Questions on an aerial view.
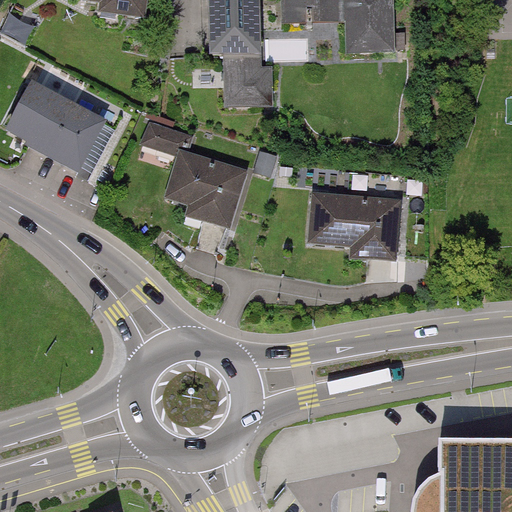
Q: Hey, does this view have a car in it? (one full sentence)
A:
Yes, this view includes a car.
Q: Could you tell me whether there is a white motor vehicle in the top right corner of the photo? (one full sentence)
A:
No, there's no white motor vehicle to be seen in the top right corner of the photo.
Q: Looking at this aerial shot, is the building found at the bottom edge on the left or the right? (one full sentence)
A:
The building found at the bottom edge sits on the right side.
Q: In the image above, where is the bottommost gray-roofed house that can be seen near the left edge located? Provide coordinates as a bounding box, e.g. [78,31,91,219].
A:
[6,79,106,174]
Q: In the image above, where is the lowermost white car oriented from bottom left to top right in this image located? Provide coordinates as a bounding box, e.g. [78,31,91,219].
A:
[240,410,262,428]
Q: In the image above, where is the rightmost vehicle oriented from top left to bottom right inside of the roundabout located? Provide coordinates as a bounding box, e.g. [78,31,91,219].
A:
[220,357,238,379]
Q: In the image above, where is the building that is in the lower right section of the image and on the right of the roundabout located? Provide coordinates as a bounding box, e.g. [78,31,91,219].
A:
[410,437,512,512]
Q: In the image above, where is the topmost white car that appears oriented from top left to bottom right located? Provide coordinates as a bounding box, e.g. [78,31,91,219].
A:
[164,242,186,262]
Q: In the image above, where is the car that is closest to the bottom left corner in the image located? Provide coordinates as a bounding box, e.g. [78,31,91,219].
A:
[130,400,143,424]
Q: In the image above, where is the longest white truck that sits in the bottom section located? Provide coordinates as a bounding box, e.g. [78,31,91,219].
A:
[326,364,406,395]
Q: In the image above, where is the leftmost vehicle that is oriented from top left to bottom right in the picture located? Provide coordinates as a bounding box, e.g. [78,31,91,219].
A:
[17,215,39,234]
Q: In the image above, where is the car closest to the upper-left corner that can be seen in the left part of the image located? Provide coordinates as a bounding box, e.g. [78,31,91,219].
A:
[38,157,54,178]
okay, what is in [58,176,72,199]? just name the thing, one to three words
car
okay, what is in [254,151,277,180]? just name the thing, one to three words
shed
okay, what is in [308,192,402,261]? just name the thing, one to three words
house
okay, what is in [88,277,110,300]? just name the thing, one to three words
car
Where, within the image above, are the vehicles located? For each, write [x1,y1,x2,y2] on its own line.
[375,475,386,503]
[77,233,103,254]
[164,242,186,262]
[141,282,165,305]
[17,215,39,234]
[414,401,438,425]
[240,410,262,428]
[38,157,54,178]
[58,176,72,199]
[116,317,132,342]
[184,438,206,450]
[384,407,402,426]
[266,346,291,358]
[326,364,406,395]
[414,326,438,338]
[220,357,238,379]
[88,277,110,300]
[130,400,143,424]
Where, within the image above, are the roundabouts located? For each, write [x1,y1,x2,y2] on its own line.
[118,326,264,473]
